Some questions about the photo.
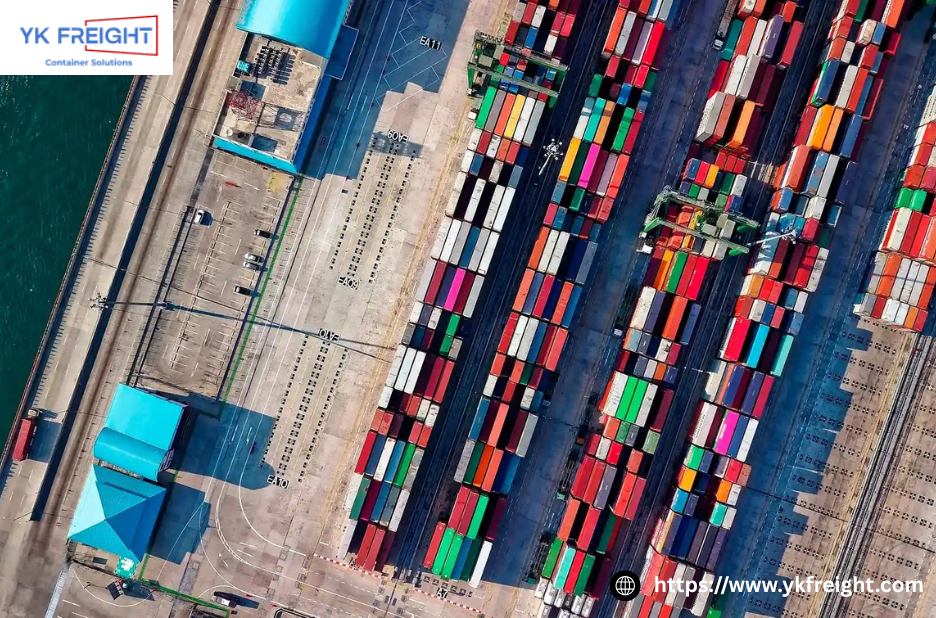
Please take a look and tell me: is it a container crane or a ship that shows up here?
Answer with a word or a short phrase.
container crane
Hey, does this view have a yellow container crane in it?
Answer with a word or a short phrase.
No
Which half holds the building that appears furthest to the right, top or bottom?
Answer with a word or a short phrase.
top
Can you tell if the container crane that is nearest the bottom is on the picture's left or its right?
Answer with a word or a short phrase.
right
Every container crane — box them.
[464,34,574,129]
[636,186,766,266]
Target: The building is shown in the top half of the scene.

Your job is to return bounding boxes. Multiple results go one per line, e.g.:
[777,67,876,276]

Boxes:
[211,0,363,176]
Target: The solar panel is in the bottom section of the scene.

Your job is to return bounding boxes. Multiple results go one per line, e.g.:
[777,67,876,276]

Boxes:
[109,581,130,600]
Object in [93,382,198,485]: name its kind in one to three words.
building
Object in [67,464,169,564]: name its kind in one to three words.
building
